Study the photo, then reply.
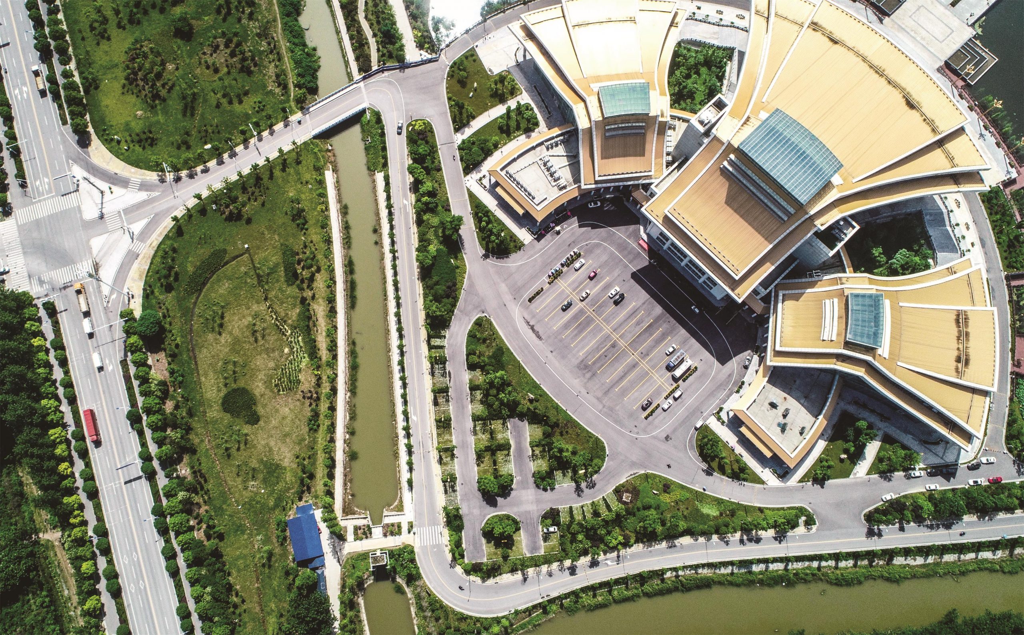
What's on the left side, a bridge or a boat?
bridge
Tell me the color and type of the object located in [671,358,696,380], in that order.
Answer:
white bus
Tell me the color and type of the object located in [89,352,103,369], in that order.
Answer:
white vehicle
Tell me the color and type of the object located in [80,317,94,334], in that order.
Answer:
white vehicle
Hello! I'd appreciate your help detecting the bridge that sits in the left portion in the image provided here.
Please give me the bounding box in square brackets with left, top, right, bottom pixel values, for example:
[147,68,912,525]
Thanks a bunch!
[303,77,368,137]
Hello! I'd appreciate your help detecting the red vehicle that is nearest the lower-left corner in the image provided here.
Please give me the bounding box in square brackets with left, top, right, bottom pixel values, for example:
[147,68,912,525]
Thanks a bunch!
[78,408,100,443]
